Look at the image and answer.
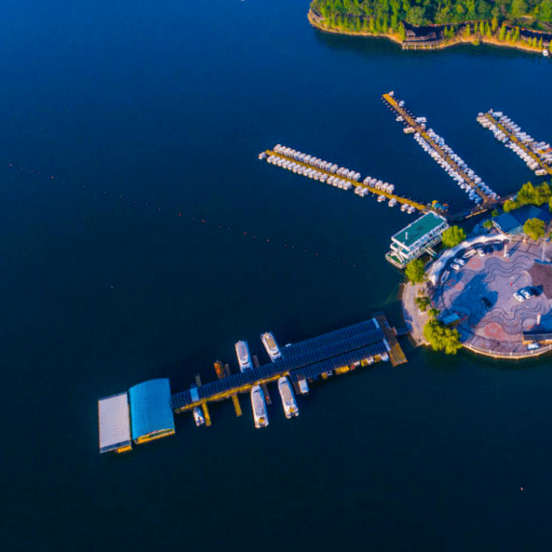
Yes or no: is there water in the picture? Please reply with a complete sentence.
Yes, the picture does contain water.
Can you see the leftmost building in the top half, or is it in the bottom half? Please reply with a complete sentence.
The leftmost building is in the bottom half of the image.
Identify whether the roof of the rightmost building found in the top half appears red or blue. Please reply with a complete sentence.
The roof of the rightmost building found in the top half is blue.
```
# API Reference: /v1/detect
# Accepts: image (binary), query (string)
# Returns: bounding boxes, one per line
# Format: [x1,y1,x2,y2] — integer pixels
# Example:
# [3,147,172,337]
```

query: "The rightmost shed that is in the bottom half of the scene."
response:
[522,327,552,344]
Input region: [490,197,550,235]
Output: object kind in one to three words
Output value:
building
